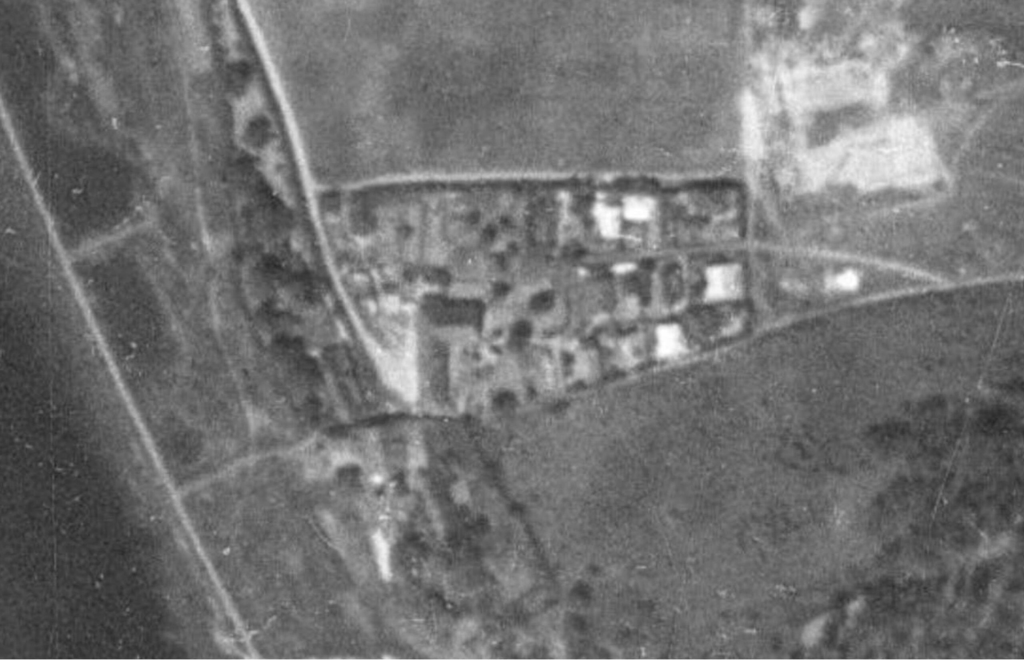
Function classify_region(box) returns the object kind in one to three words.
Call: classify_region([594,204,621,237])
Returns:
house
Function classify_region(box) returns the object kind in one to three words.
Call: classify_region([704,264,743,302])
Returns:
house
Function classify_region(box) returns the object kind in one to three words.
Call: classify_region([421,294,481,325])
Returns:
barn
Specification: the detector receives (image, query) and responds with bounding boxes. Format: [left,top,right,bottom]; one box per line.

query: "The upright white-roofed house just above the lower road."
[657,324,690,357]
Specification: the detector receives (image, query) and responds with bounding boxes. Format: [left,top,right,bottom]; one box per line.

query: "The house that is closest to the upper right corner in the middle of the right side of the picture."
[828,271,859,289]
